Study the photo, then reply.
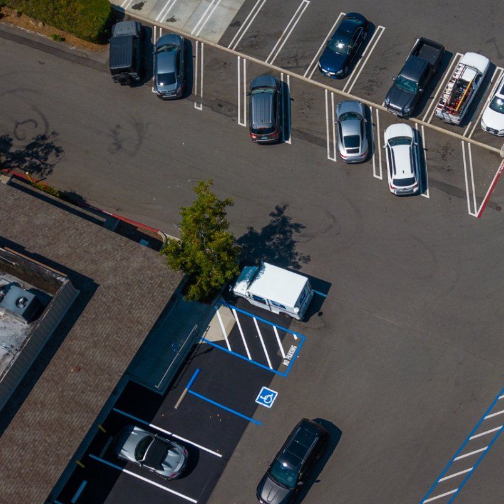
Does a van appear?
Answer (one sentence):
Yes, there's a van down there.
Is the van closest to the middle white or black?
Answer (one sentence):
In this view, the van closest to the middle is white.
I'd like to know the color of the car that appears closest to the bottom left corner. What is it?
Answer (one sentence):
From above, the car that appears closest to the bottom left corner appears black.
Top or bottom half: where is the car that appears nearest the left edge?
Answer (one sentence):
The car that appears nearest the left edge is in the top half of the image.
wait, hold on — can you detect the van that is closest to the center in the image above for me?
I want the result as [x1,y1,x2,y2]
[230,262,314,321]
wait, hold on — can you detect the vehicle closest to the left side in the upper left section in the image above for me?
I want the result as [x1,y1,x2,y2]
[107,21,145,87]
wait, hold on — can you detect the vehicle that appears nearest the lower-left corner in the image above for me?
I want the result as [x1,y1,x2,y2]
[113,425,193,481]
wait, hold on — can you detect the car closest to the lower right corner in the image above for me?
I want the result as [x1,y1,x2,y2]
[261,417,327,504]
